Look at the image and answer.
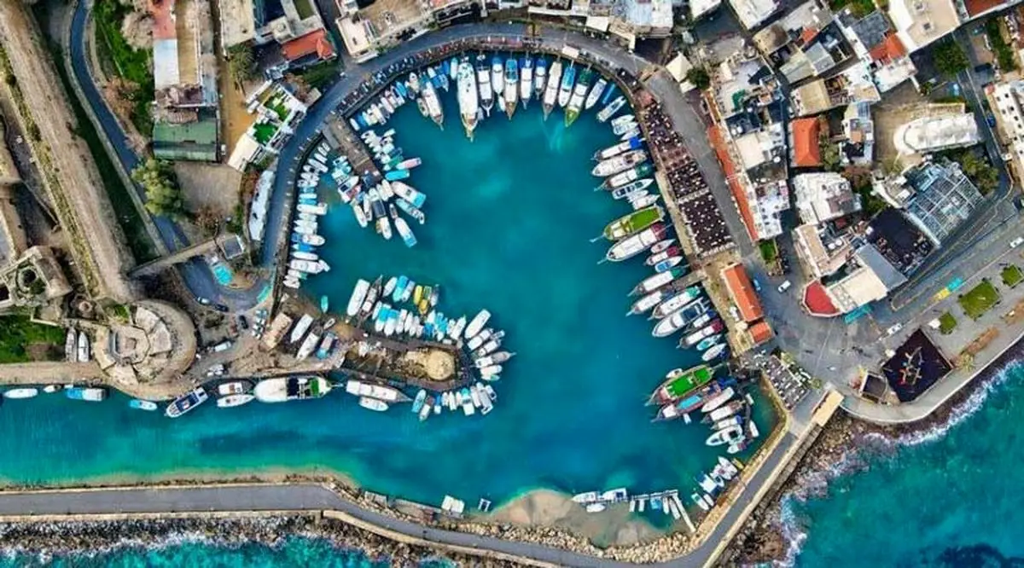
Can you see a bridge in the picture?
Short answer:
Yes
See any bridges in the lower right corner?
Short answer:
No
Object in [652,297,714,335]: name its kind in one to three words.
ship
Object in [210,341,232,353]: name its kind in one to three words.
vehicle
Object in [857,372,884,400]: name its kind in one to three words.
shed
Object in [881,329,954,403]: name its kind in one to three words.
playground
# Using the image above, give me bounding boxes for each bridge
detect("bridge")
[131,234,228,279]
